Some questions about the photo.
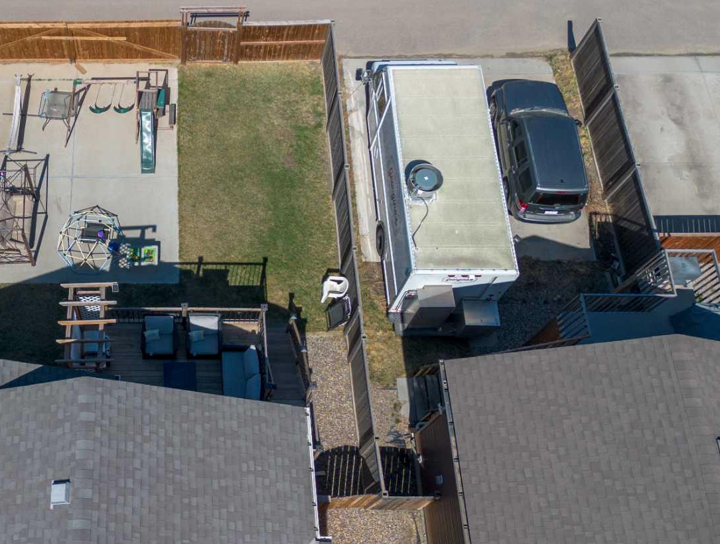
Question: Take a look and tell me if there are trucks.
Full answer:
Yes, you can see a truck in this photo.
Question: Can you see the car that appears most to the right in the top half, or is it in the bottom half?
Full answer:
It is in the top half that the car that appears most to the right appears.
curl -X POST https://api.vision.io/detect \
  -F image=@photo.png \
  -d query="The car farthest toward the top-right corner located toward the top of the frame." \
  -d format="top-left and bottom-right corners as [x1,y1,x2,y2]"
[489,89,589,224]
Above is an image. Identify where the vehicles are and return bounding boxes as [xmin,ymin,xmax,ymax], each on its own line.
[358,58,521,335]
[489,89,589,224]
